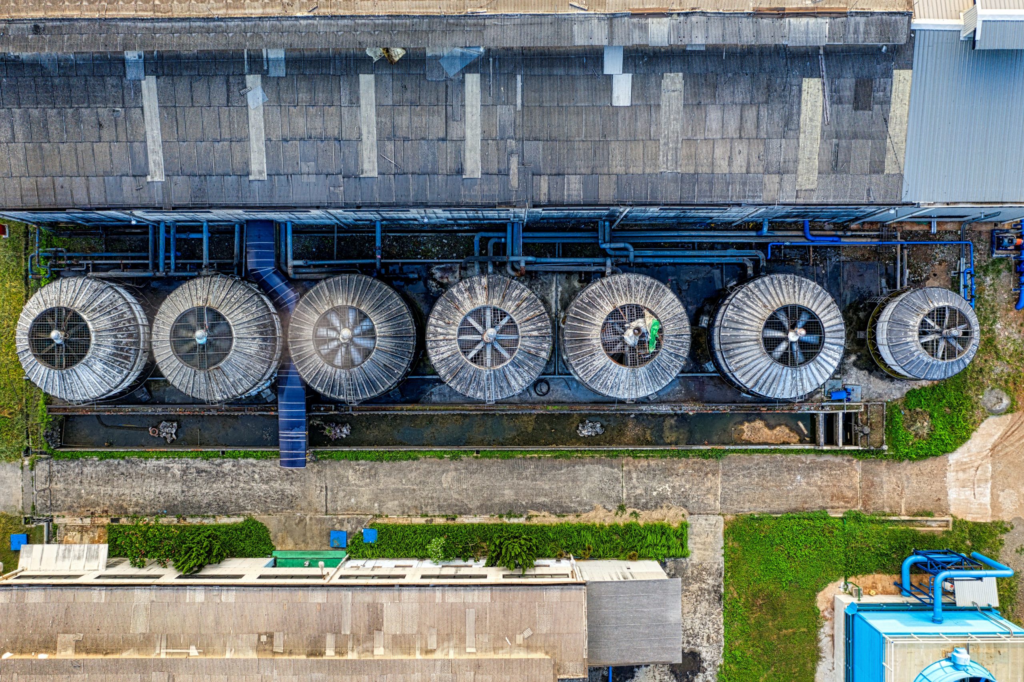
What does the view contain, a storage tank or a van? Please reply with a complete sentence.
Looking from above, you can make out a storage tank.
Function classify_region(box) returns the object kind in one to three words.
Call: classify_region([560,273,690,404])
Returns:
cooling tower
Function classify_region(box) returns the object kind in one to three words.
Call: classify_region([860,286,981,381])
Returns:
cooling tower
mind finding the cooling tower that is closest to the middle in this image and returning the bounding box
[426,274,553,405]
